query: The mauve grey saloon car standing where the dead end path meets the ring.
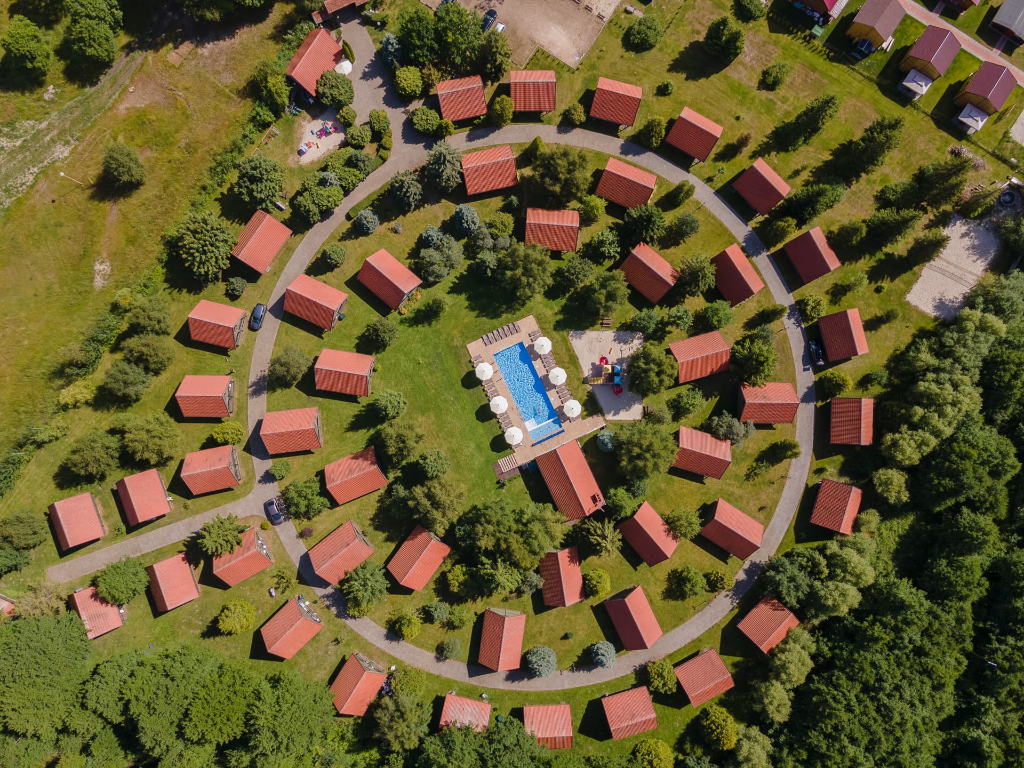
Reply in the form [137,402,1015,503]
[267,497,285,525]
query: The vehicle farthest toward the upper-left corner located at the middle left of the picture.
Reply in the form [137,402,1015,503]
[250,303,267,331]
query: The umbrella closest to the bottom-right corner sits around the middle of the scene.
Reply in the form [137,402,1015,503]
[563,399,581,418]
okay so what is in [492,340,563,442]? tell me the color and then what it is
blue swimming pool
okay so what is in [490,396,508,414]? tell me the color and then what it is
white umbrella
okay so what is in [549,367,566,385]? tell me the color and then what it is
white umbrella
